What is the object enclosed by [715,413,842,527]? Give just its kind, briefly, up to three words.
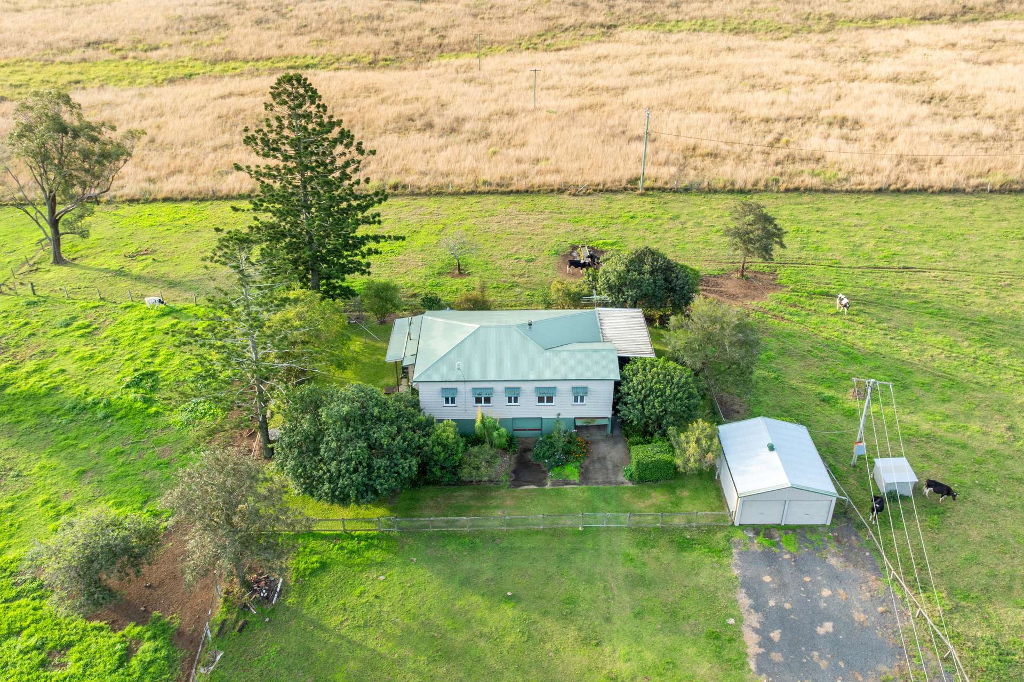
building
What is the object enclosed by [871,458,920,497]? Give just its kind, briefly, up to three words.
shed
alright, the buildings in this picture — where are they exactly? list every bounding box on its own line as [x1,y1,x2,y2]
[384,286,656,437]
[715,413,842,527]
[871,458,920,497]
